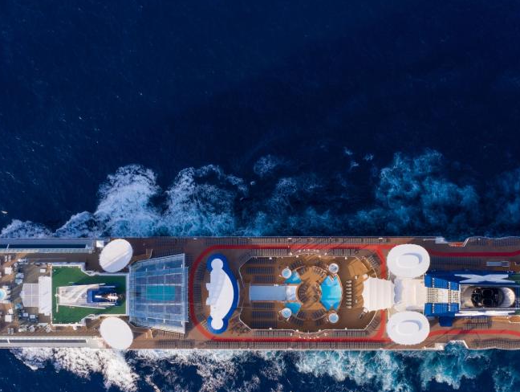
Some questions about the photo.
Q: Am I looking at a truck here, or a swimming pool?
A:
swimming pool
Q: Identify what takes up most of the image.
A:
water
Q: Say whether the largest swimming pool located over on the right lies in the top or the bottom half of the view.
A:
bottom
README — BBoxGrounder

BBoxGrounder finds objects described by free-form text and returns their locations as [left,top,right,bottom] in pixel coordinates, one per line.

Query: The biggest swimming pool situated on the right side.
[320,274,343,312]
